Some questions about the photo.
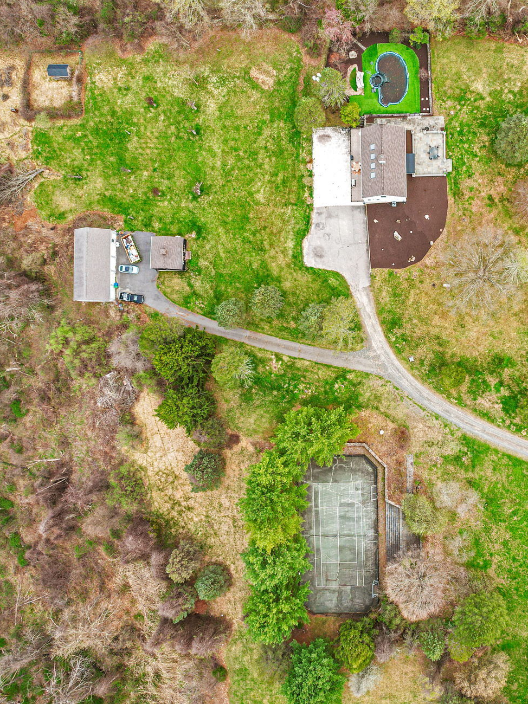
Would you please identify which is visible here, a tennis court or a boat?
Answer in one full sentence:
The one in the frame is a tennis court.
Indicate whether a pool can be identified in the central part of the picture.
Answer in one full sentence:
No, no pool is visible in the central part of the picture.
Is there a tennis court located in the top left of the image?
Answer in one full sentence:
No, looking in the top left of the image, there is no tennis court.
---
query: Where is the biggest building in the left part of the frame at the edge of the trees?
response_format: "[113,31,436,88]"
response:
[74,226,116,300]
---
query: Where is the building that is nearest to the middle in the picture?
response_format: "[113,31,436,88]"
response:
[151,235,188,271]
